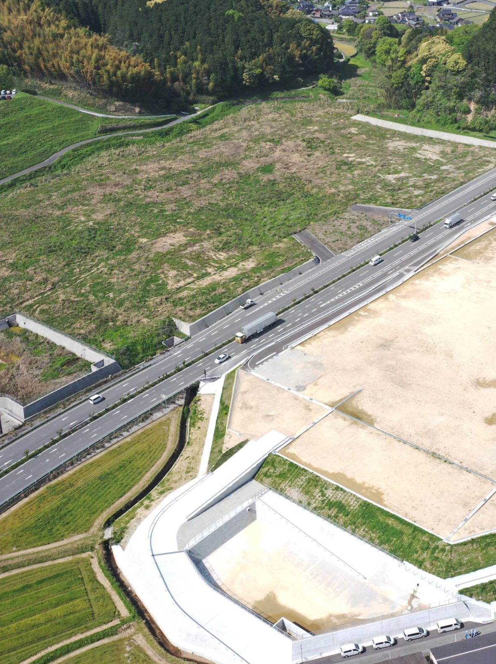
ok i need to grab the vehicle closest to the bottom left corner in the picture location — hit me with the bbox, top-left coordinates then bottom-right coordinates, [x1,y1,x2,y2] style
[87,394,104,406]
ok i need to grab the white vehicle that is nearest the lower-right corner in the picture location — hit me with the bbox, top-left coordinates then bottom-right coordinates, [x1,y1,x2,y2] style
[438,619,460,634]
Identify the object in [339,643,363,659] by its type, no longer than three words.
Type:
vehicle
